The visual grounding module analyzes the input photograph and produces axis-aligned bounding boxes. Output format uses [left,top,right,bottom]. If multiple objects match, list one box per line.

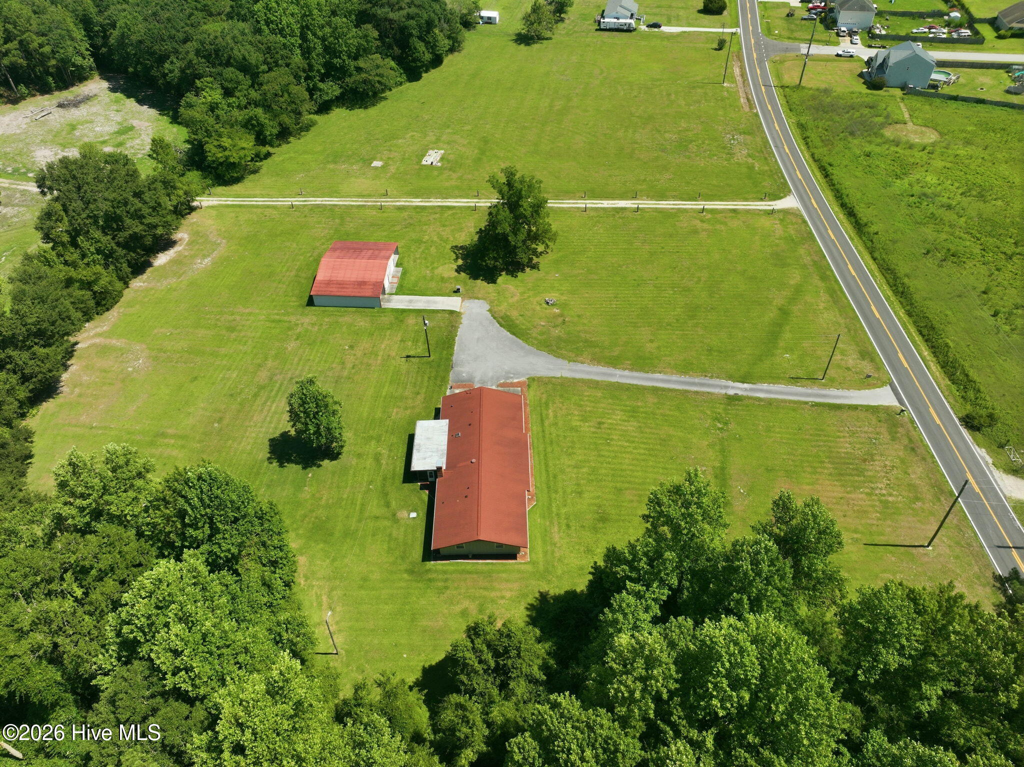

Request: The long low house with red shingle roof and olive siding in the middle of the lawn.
[409,385,531,555]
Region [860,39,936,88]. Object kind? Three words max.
house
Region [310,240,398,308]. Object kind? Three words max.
shed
